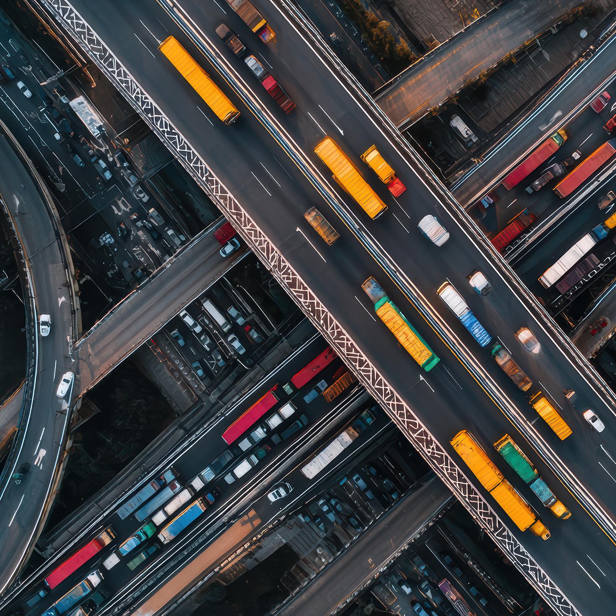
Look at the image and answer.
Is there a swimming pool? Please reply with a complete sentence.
No, there isn't any swimming pool down there.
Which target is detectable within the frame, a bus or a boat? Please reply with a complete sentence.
Of the two, only a bus appears.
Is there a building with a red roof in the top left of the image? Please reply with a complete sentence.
No, there's no building with a red roof to be seen in the top left of the image.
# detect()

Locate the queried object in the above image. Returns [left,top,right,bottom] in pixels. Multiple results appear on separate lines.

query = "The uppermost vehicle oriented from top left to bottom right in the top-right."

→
[449,113,475,144]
